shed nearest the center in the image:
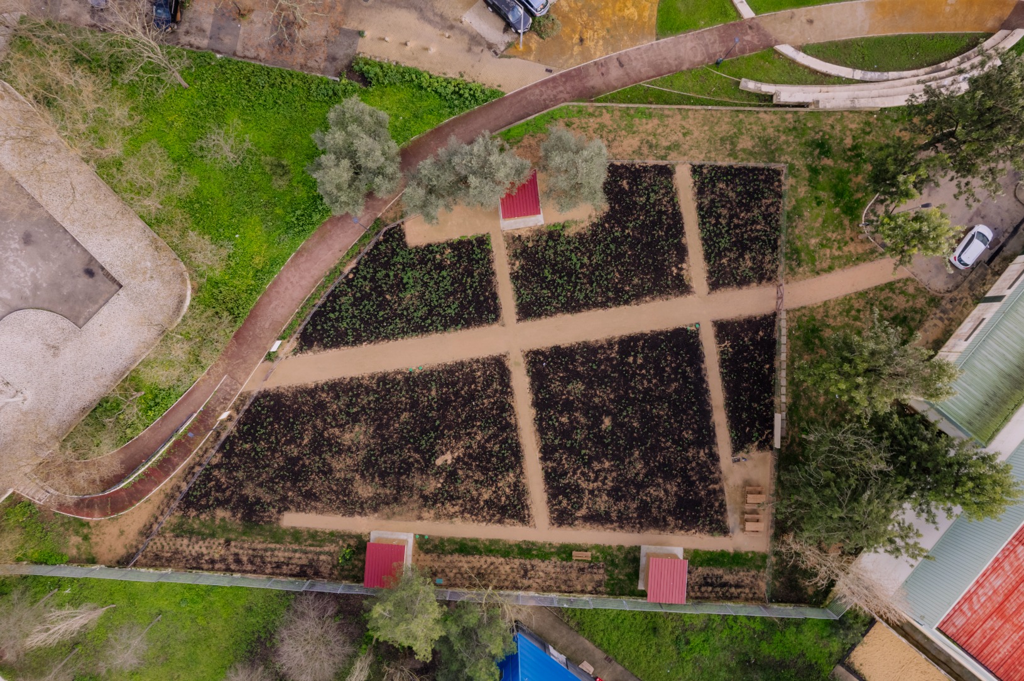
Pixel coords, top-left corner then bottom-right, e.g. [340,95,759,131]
[499,173,546,229]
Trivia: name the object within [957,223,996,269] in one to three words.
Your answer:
car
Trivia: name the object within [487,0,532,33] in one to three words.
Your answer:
car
